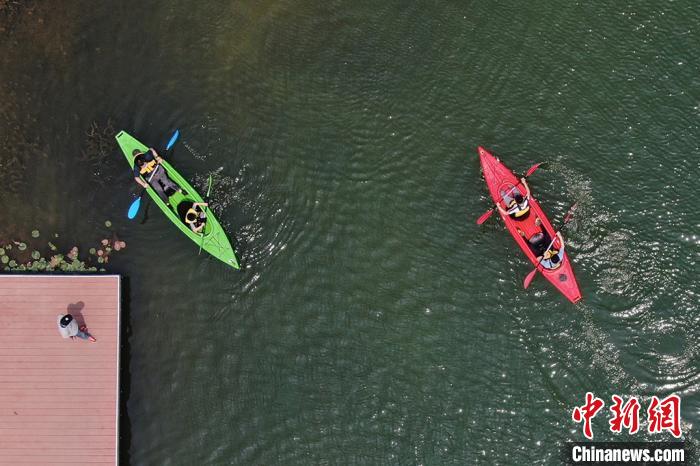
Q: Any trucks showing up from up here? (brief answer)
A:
No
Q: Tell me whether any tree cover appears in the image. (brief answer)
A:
No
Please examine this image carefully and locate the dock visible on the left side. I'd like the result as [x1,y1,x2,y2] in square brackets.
[0,273,131,466]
